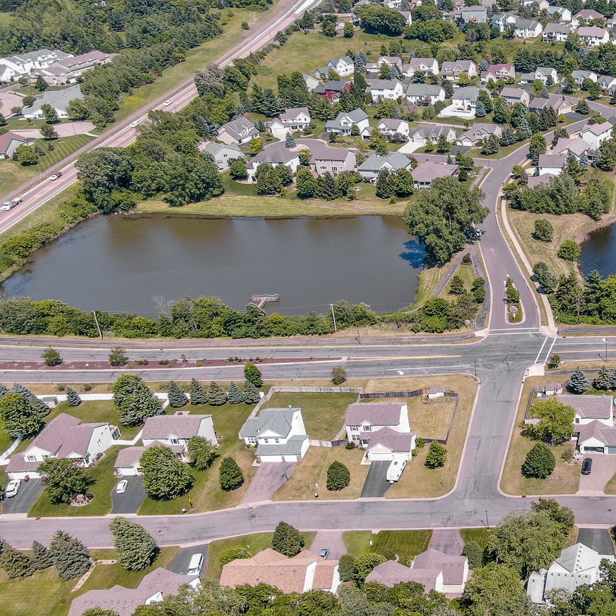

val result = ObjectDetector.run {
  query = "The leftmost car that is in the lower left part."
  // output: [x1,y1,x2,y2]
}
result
[4,480,20,497]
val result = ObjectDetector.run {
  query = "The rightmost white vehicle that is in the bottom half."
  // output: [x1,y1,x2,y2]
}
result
[386,454,406,486]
